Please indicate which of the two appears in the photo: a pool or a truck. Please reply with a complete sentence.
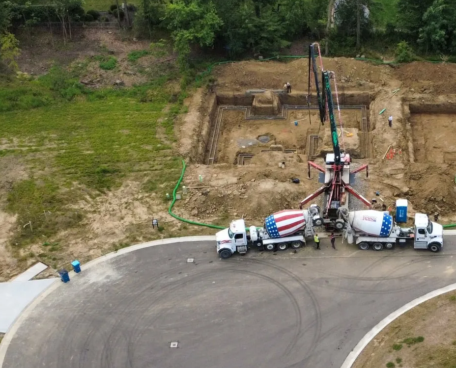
Of the two, only a truck appears.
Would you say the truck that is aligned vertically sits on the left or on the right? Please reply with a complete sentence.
The truck that is aligned vertically sits on the right side.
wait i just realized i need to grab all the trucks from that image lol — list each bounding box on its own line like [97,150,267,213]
[213,205,322,259]
[299,43,374,223]
[336,207,446,253]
